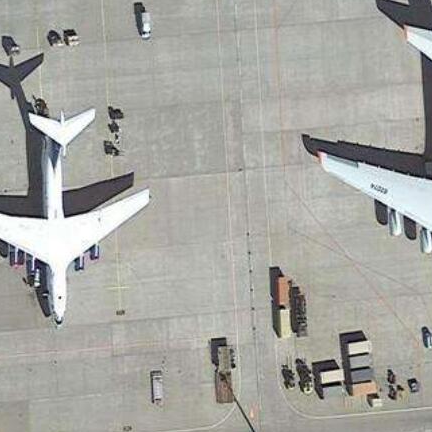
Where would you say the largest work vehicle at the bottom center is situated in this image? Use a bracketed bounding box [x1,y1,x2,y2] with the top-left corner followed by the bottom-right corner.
[214,347,235,402]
